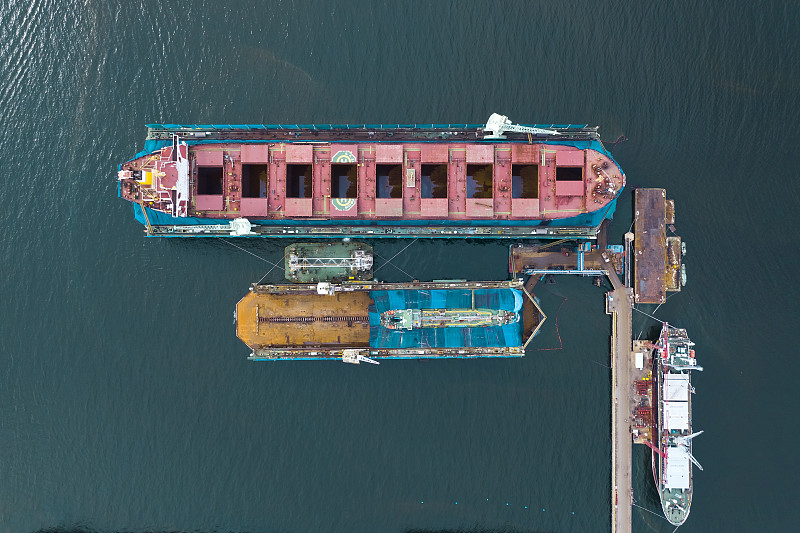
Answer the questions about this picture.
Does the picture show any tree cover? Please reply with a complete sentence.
No, there is no tree cover in the image.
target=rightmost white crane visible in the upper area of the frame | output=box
[485,118,559,140]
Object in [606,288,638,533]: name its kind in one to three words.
pier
